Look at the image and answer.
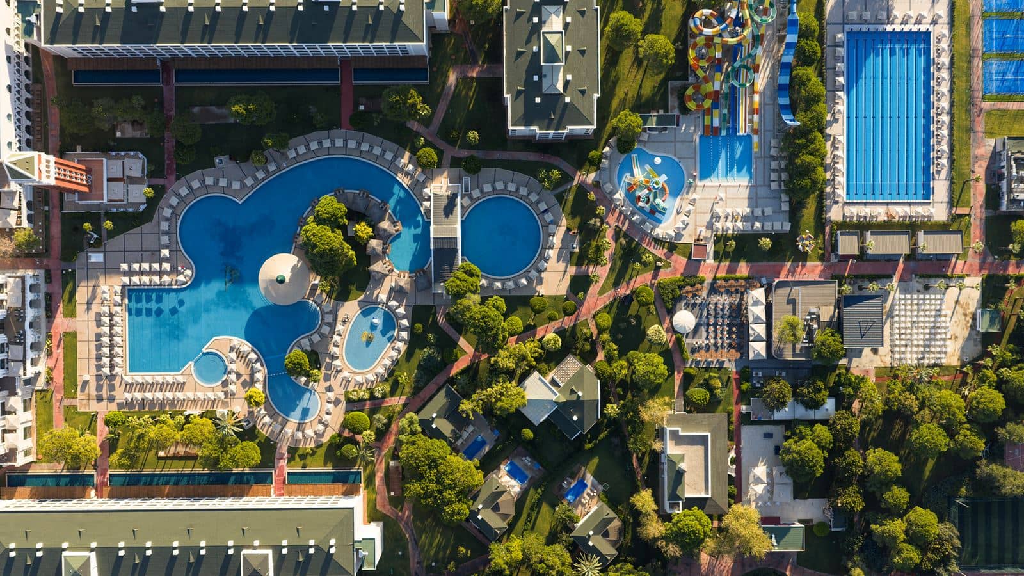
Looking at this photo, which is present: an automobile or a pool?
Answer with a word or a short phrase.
pool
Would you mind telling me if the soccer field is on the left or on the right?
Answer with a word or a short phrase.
right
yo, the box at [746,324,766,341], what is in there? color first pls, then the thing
white tent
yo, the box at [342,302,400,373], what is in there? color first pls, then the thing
blue swimming pool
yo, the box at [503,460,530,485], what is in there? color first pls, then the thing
blue swimming pool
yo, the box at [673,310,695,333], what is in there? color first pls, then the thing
white umbrella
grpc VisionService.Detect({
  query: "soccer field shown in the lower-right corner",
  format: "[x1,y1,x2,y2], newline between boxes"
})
[958,498,1024,571]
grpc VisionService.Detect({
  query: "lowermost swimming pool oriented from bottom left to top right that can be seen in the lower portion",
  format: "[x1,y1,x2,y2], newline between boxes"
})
[564,478,589,503]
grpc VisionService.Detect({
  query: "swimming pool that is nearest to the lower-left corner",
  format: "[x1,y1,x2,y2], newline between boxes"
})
[6,473,96,487]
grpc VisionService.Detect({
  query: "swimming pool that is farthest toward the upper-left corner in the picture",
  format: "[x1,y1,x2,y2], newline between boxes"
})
[72,69,162,86]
